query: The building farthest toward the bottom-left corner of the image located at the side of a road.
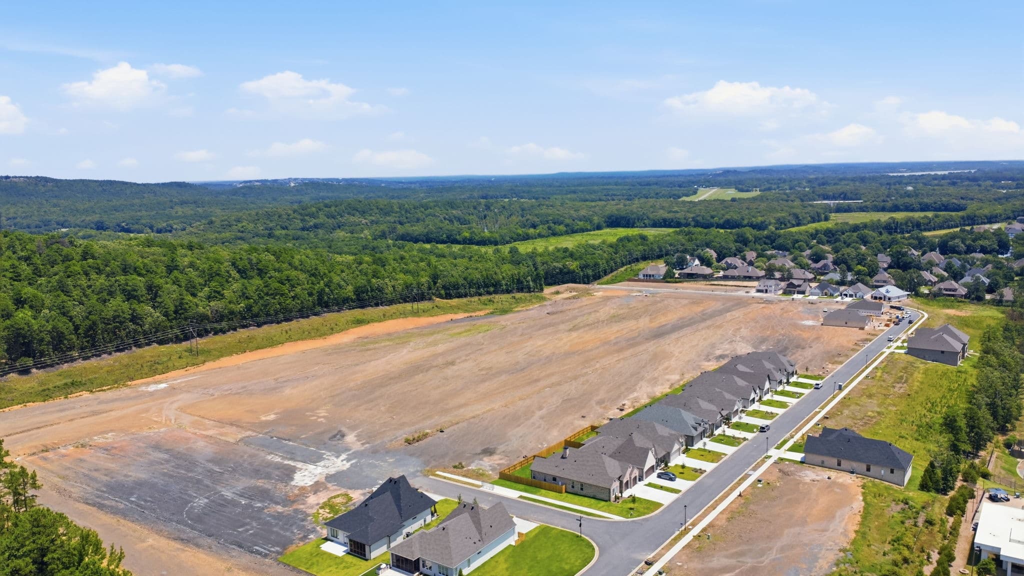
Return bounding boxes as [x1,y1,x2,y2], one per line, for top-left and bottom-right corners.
[322,477,446,559]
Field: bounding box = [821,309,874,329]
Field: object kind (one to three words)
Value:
house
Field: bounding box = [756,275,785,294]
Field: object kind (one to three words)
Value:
house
